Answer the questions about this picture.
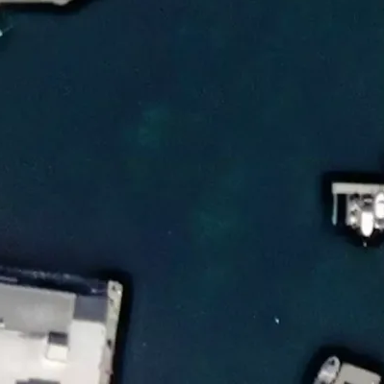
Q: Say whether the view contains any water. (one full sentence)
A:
Yes, there's water in this view.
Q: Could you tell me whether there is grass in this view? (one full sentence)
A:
No, no grass is visible.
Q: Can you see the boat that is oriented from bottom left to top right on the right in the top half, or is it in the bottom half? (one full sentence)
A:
Seen from above, the boat that is oriented from bottom left to top right on the right lies in the bottom half of the view.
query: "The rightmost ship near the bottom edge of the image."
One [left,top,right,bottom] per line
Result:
[334,363,381,384]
